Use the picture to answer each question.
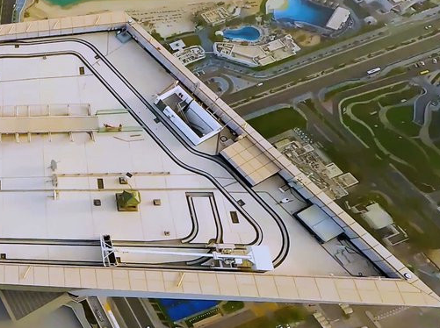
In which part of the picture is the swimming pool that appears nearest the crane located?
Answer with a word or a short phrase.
bottom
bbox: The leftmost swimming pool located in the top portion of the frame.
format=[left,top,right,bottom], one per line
[223,23,263,42]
